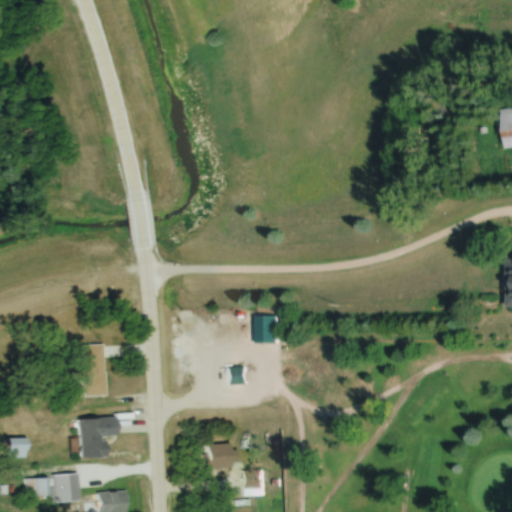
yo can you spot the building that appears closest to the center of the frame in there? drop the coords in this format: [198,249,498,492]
[251,314,277,342]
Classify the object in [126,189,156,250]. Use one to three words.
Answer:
bridge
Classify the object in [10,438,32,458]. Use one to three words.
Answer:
building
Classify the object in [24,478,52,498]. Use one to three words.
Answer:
shed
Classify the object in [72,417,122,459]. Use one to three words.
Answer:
house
